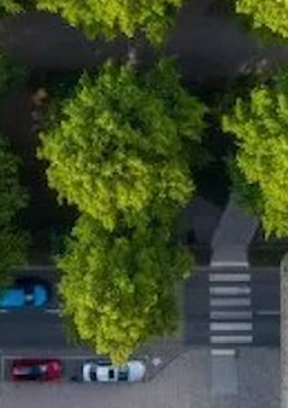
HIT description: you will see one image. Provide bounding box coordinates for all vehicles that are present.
[13,355,65,382]
[0,279,47,307]
[86,355,146,384]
